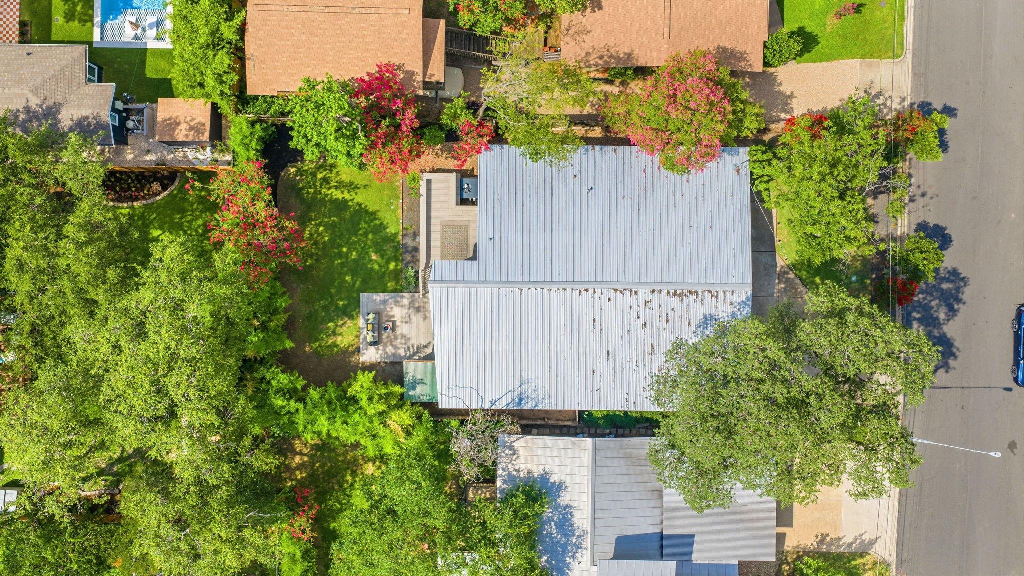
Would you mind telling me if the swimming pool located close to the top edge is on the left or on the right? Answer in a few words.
left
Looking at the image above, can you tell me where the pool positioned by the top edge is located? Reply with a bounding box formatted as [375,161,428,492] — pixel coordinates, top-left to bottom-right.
[94,0,173,49]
